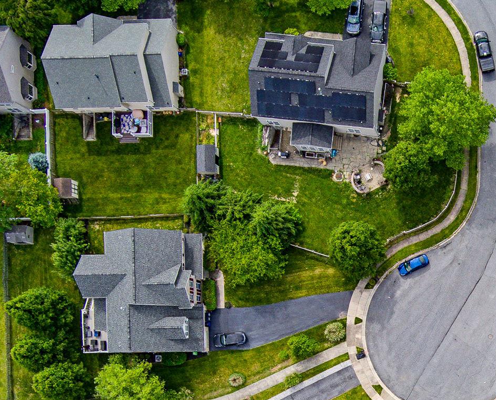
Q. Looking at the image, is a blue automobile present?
Yes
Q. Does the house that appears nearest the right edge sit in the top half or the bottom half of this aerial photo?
top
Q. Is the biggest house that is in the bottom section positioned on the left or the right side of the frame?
left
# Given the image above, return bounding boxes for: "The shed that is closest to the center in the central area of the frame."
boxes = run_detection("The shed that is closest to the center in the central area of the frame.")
[196,143,220,177]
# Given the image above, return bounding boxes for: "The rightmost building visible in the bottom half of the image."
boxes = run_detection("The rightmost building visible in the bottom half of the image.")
[73,227,209,353]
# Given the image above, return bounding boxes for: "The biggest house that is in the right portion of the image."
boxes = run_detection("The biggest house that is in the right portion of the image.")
[248,30,386,152]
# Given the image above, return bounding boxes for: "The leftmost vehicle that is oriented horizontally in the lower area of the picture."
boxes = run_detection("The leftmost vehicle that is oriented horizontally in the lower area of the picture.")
[212,332,248,349]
